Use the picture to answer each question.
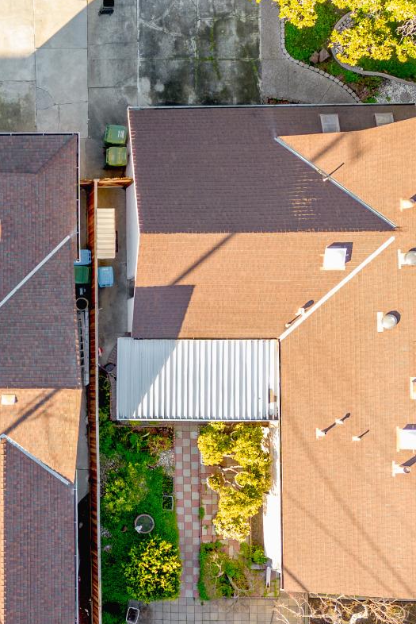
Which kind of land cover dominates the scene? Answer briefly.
buildings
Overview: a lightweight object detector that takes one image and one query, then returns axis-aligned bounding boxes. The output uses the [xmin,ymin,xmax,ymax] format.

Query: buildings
[104,102,416,601]
[0,131,81,624]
